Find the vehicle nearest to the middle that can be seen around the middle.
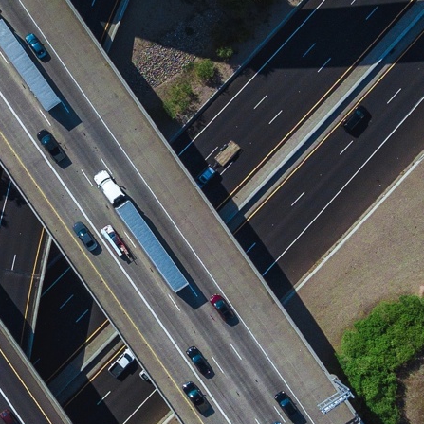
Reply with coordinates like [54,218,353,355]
[194,162,220,191]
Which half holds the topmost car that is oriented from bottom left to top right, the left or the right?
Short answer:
right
